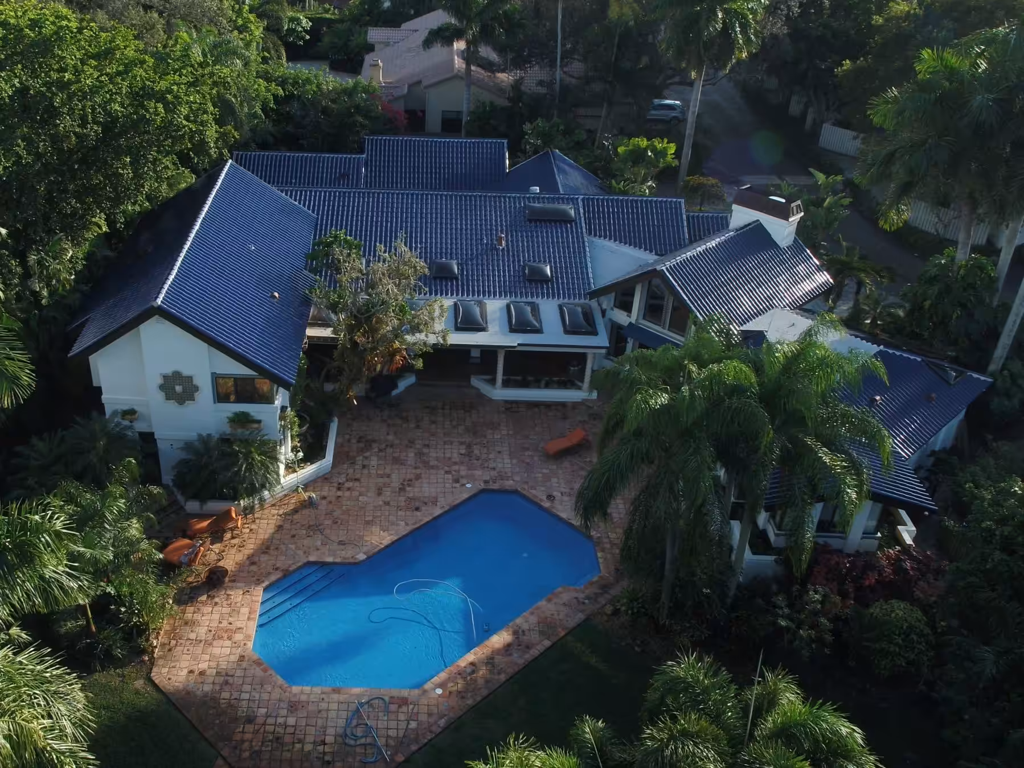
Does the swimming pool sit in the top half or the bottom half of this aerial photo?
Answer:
bottom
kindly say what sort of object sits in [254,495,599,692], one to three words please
swimming pool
